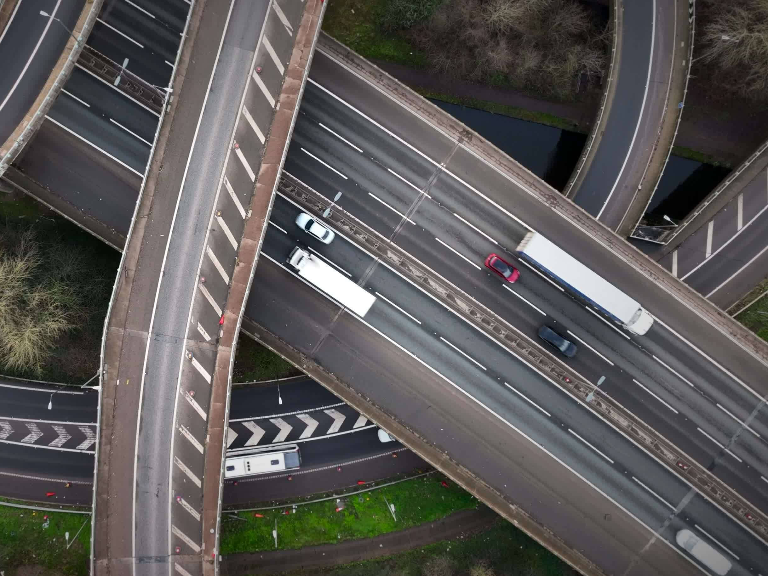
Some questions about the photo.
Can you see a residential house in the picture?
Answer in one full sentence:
No, the photo shows no residential house.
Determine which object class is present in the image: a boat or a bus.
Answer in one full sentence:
The one in the frame is a bus.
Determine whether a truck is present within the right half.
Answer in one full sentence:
Yes, a truck shows up within the right half.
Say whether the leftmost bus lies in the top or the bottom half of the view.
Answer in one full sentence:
Seen from above, the leftmost bus lies in the bottom half of the view.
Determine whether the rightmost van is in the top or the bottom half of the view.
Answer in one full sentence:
You can find the rightmost van in the bottom half.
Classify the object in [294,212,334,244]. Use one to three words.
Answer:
car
